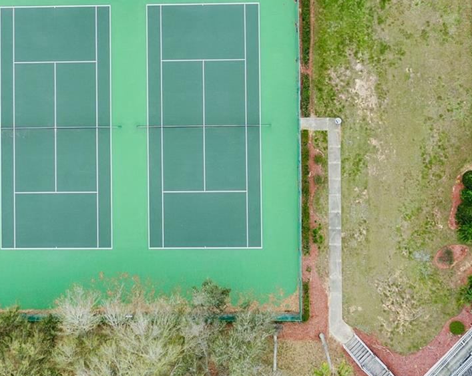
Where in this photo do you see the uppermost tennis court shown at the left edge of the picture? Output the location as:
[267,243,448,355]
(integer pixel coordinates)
[0,4,113,250]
